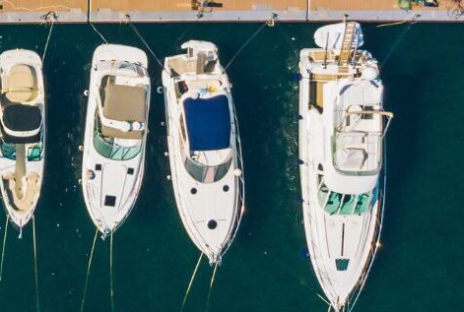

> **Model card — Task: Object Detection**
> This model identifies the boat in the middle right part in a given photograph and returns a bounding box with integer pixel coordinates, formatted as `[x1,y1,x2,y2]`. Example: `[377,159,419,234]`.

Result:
[294,41,384,312]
